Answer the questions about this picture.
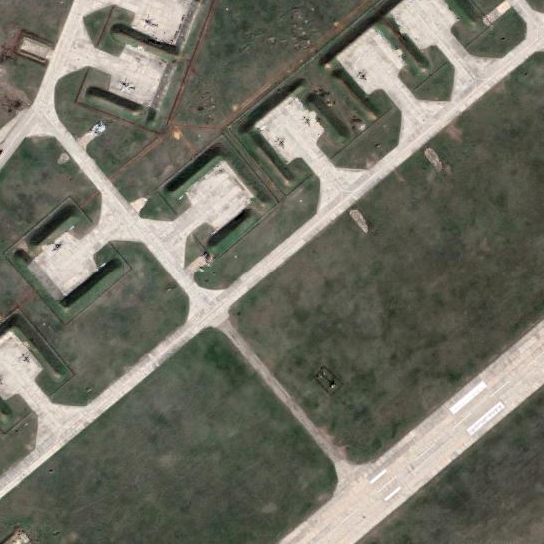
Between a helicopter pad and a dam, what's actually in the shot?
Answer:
helicopter pad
